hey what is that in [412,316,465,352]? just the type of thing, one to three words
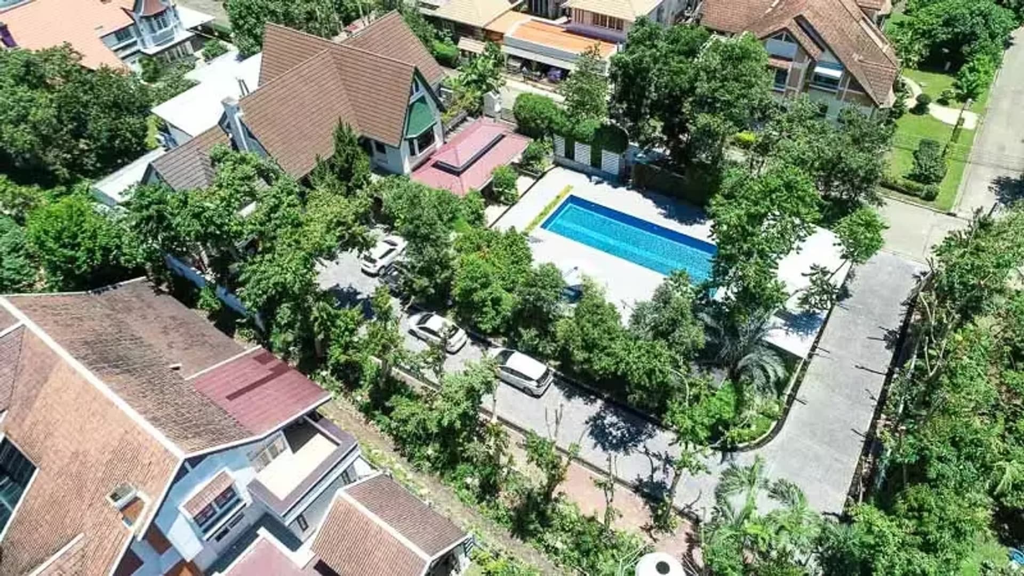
car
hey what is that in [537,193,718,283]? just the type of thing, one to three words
swimming pool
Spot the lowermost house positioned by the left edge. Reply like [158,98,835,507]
[0,273,398,576]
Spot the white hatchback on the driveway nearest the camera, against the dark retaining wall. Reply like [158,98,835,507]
[495,356,554,394]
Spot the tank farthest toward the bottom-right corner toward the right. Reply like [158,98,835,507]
[631,549,685,576]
